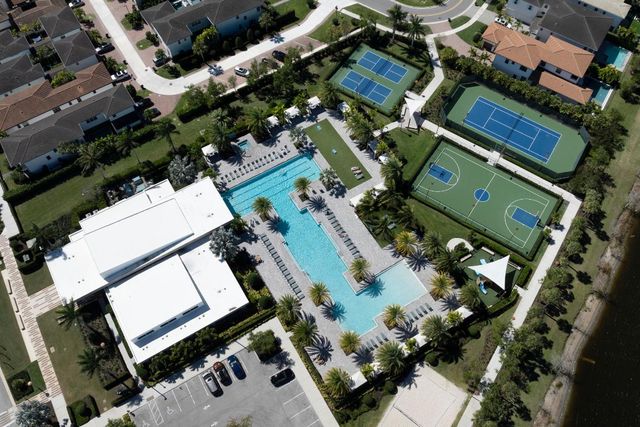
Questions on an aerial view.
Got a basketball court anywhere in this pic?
Yes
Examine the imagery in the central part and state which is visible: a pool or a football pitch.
pool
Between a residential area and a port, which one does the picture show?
residential area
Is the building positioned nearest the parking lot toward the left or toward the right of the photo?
left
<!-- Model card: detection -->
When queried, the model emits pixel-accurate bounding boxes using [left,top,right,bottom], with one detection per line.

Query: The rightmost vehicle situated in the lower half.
[272,368,295,385]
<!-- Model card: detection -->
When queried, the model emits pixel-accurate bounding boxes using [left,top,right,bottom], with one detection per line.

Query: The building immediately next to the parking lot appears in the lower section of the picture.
[46,176,250,365]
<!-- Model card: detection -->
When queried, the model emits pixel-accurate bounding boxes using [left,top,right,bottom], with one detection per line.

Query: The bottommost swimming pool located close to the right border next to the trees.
[589,83,612,106]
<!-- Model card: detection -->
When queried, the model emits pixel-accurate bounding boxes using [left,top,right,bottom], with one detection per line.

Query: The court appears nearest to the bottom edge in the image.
[378,361,469,427]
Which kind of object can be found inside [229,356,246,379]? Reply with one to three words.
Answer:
car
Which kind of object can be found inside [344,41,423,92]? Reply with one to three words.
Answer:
sports court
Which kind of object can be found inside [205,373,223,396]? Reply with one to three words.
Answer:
car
